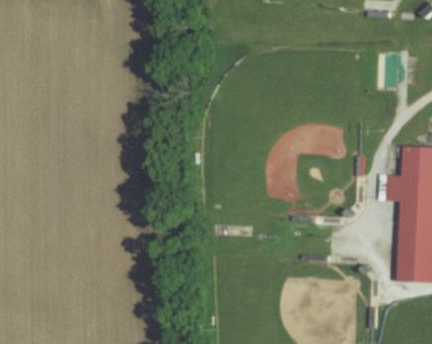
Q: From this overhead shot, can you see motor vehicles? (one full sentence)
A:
No, no motor vehicle is visible in the scene.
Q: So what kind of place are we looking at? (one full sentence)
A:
This looks like a sports ground.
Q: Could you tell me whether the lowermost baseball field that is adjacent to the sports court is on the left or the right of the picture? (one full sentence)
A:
You can find the lowermost baseball field that is adjacent to the sports court on the right side of the picture.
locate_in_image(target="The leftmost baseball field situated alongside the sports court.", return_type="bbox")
[202,47,366,220]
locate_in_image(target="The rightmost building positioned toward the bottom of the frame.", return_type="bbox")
[378,147,432,282]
